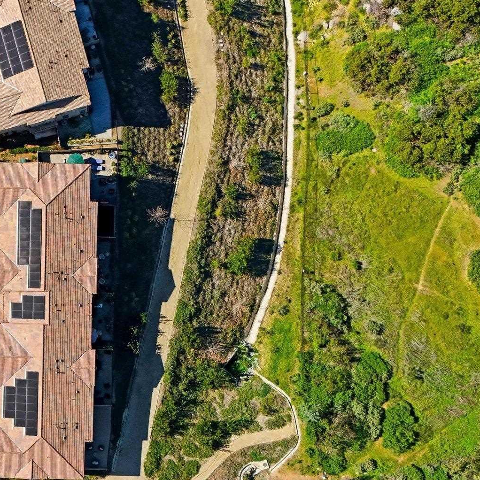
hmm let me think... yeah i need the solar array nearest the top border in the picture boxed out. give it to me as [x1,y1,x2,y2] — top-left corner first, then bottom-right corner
[0,23,34,78]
